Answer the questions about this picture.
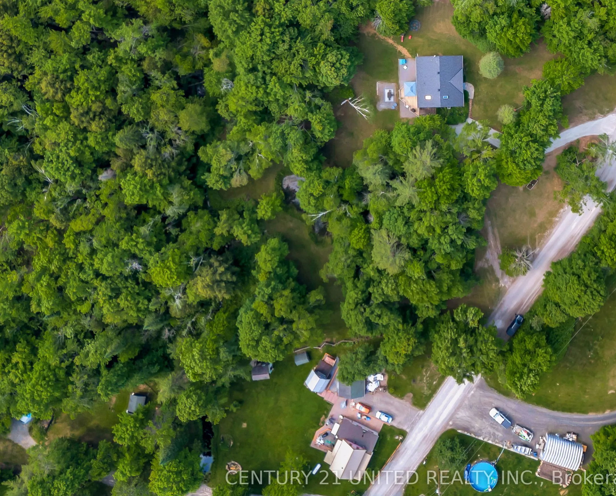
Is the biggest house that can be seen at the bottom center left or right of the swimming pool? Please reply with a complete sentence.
To the left of the swimming pool is where the biggest house that can be seen at the bottom center appears.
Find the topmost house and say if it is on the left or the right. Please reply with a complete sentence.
You can find the topmost house on the right side of the picture.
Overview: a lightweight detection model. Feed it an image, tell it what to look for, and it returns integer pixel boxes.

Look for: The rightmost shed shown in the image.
[540,434,583,471]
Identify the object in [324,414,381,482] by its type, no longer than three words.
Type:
house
